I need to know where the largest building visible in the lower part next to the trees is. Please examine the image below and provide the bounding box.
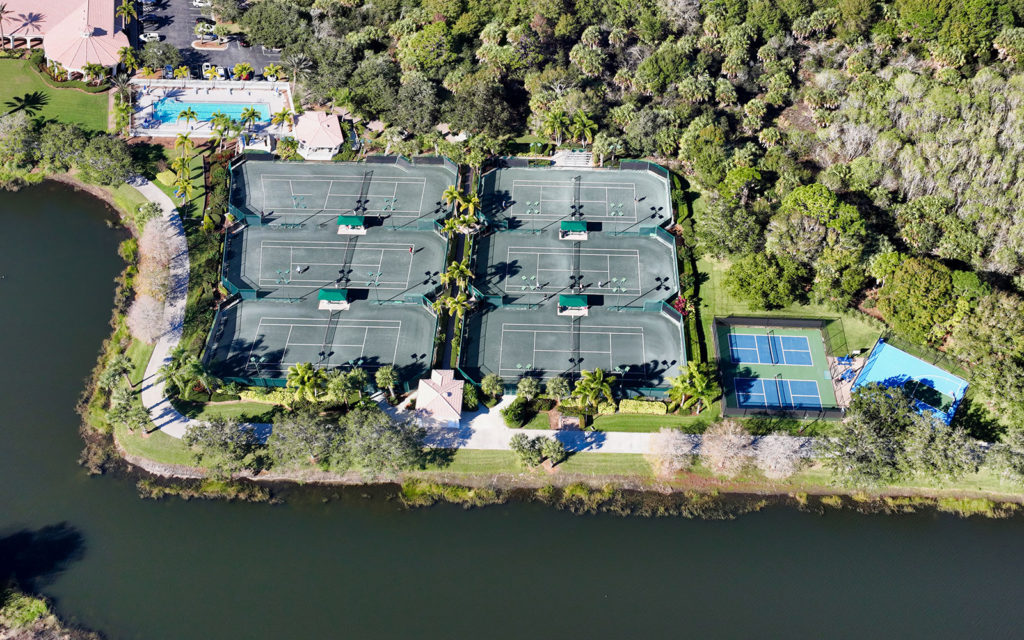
[413,368,465,428]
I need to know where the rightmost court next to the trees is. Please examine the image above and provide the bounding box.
[852,342,969,425]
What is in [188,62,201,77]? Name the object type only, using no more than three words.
vehicle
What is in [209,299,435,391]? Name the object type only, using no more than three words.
tennis court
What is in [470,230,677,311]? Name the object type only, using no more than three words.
tennis court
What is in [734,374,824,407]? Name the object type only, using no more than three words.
sports court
